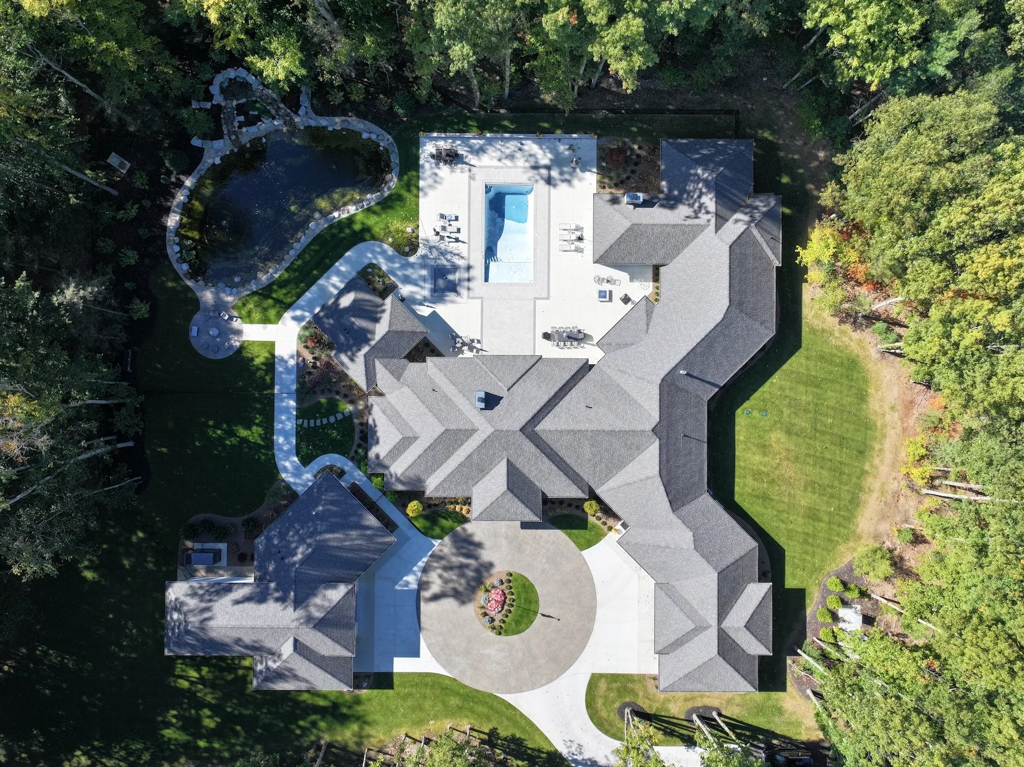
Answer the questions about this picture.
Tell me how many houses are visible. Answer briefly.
2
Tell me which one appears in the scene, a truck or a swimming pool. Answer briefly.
swimming pool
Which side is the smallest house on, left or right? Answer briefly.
left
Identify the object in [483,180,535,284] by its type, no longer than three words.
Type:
swimming pool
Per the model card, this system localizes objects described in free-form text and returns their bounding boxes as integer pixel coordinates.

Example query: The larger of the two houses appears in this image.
[309,137,783,693]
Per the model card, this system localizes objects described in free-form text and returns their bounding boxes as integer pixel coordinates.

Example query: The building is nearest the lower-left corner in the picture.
[164,469,397,691]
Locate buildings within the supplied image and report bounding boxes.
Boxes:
[309,137,783,693]
[164,469,397,691]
